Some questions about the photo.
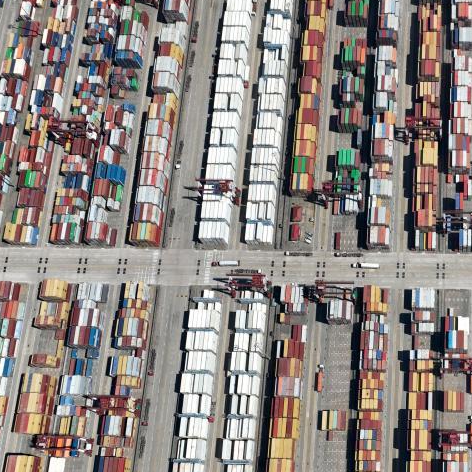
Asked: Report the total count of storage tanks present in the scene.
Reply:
zero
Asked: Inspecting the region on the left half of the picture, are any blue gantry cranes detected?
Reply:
No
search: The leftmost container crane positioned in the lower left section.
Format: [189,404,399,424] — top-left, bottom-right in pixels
[37,435,96,458]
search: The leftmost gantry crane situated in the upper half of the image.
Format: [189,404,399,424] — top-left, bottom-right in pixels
[50,120,101,148]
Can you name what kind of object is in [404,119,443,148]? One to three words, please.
container crane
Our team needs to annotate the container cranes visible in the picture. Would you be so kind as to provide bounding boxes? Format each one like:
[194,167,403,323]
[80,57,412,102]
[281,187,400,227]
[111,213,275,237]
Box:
[314,282,358,308]
[404,119,443,148]
[87,395,144,418]
[441,214,472,240]
[437,431,472,453]
[193,182,241,210]
[439,359,472,383]
[320,185,363,213]
[50,120,101,148]
[224,275,273,301]
[37,435,96,458]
